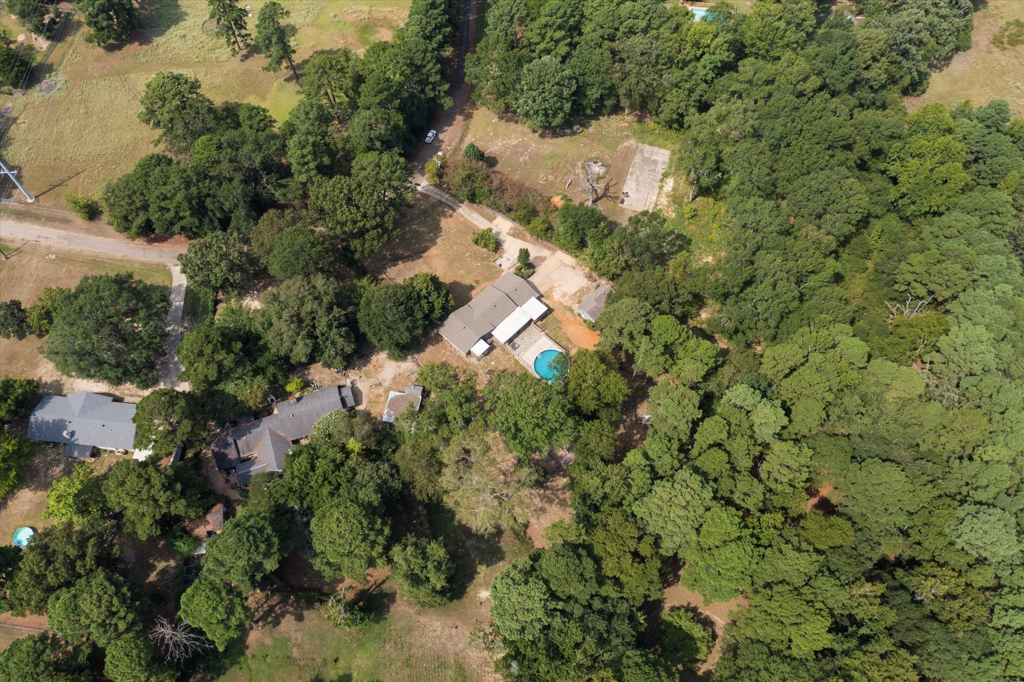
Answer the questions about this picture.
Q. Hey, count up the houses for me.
three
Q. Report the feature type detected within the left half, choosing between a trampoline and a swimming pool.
swimming pool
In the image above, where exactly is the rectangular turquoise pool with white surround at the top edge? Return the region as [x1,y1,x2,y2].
[682,1,733,31]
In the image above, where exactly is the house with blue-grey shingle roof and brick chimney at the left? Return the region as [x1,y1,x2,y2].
[26,391,142,460]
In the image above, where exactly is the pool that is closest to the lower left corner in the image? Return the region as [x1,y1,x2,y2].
[8,526,35,548]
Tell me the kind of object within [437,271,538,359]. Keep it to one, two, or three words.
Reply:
house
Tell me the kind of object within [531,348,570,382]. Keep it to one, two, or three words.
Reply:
swimming pool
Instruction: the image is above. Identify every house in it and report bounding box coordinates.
[26,391,142,460]
[437,271,538,359]
[211,386,346,488]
